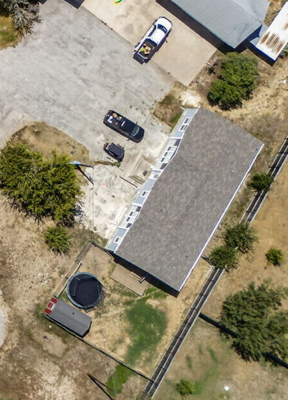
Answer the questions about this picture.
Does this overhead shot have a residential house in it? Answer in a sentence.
Yes, the picture does show a residential house.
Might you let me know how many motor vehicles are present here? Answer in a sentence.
My tally gives 3 motor vehicles in this view.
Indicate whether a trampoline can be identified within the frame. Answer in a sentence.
Yes, the image includes a trampoline.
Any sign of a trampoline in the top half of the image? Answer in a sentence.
No, in the top half of the image there is no trampoline.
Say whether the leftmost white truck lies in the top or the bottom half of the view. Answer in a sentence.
Seen from above, the leftmost white truck lies in the top half of the view.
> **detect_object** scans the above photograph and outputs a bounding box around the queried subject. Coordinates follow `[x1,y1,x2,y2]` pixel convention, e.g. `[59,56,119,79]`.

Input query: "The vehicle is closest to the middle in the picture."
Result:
[99,141,124,162]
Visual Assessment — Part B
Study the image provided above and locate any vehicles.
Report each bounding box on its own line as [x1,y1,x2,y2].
[131,14,171,61]
[100,111,145,142]
[99,141,124,162]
